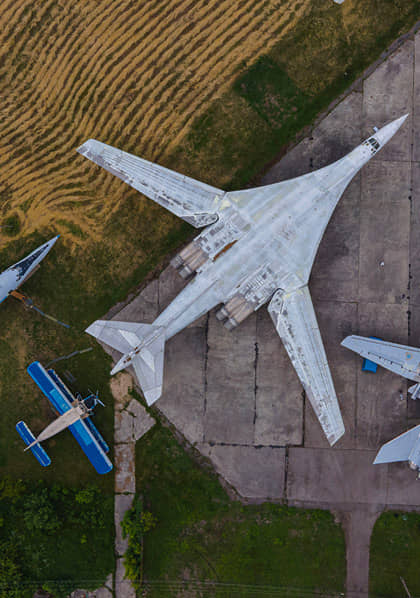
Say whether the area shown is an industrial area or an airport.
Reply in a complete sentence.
The area seen from above is an airport.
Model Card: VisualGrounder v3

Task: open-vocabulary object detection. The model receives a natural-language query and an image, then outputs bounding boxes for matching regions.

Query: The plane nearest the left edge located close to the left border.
[0,236,60,304]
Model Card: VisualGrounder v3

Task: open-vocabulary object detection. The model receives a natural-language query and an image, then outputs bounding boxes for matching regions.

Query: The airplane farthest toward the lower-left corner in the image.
[16,363,112,474]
